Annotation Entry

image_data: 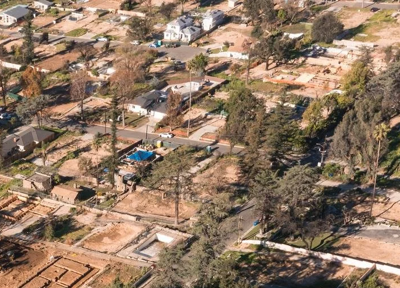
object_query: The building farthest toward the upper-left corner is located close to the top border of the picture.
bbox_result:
[0,5,30,25]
